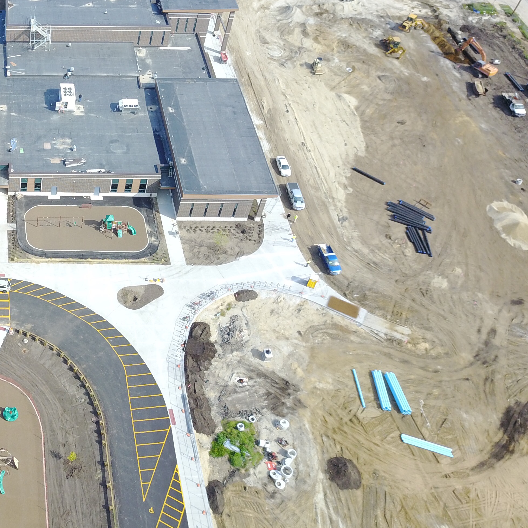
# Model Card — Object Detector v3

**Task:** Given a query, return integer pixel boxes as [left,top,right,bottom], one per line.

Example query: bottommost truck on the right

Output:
[317,242,342,275]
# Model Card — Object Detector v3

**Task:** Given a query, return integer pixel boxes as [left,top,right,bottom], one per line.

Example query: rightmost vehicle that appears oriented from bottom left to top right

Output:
[398,11,424,34]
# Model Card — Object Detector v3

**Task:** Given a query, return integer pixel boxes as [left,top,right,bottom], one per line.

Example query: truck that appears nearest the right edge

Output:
[502,92,528,120]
